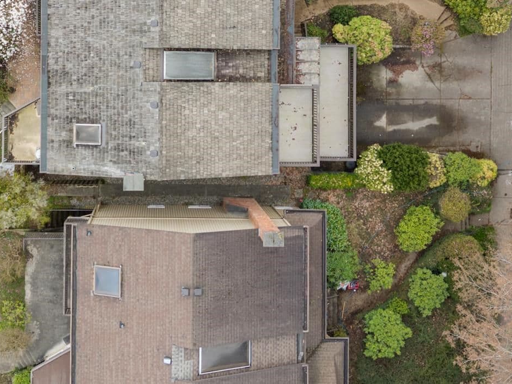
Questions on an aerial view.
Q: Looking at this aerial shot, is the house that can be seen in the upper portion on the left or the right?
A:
left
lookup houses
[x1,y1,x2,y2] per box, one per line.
[70,197,348,384]
[40,0,295,191]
